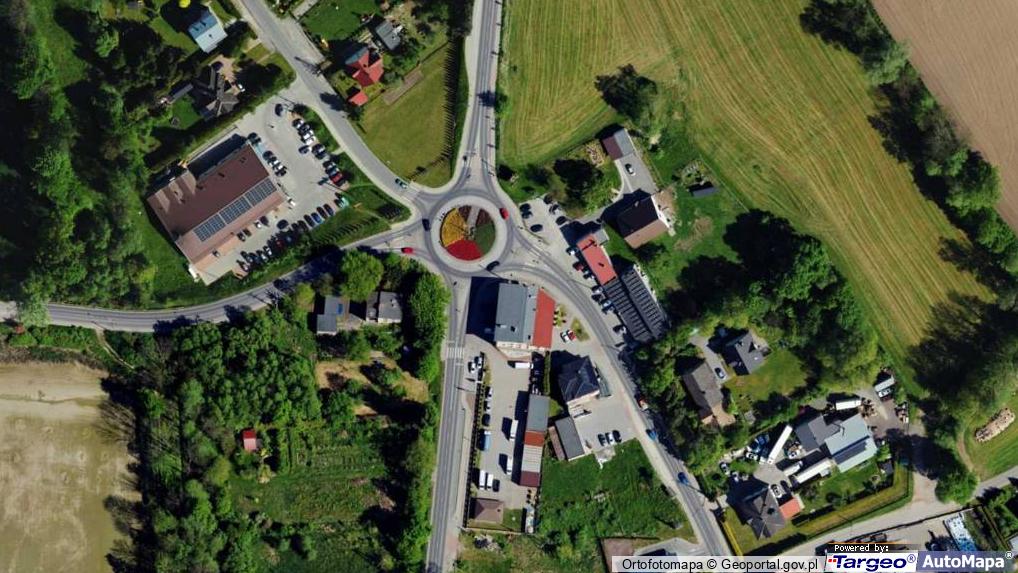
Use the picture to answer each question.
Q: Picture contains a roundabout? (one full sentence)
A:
Yes, the image includes a roundabout.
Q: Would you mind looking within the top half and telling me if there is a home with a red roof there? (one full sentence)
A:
Yes, there is a home with a red roof within the top half.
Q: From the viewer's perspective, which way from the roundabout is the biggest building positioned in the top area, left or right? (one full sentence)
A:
To the left of the roundabout is where the biggest building positioned in the top area appears.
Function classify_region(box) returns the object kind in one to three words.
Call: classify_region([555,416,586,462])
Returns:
shed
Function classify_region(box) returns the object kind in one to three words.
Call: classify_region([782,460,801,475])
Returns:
vehicle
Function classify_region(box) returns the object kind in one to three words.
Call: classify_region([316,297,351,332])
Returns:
house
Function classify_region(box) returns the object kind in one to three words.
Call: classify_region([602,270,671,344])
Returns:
building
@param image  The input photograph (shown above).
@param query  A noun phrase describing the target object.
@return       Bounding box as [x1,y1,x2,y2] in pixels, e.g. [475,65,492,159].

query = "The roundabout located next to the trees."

[422,186,516,280]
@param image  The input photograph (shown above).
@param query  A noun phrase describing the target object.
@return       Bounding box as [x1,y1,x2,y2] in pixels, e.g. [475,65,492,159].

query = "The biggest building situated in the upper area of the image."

[147,143,287,265]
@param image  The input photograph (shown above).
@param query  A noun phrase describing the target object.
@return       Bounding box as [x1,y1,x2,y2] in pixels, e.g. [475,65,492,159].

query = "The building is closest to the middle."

[495,283,556,362]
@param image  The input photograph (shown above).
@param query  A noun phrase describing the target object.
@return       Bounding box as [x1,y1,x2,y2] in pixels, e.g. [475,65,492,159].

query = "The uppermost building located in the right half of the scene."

[603,130,633,161]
